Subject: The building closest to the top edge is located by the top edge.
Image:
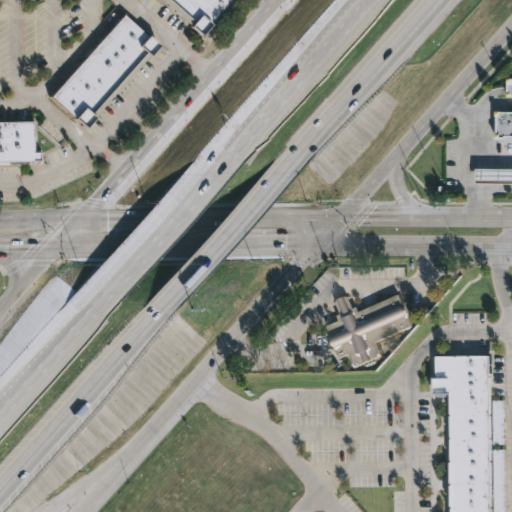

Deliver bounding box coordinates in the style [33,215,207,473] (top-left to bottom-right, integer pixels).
[170,0,230,38]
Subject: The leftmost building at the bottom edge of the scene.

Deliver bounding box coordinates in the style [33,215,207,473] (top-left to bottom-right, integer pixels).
[430,356,490,512]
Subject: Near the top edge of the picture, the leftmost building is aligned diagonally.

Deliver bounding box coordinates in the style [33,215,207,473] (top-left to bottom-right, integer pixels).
[54,14,158,130]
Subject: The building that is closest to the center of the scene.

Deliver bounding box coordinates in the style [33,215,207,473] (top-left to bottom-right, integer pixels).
[326,296,411,369]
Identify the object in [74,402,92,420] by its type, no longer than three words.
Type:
vehicle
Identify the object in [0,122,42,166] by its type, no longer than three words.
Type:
building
